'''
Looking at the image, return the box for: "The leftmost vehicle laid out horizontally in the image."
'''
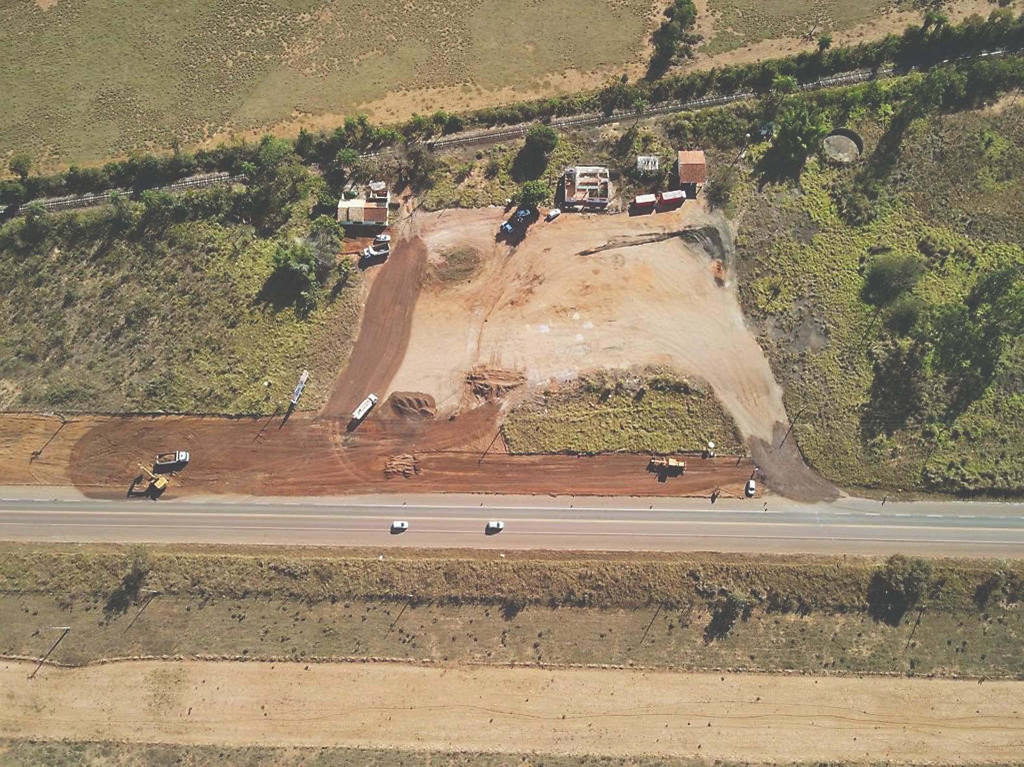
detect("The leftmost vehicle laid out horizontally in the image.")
[156,452,193,464]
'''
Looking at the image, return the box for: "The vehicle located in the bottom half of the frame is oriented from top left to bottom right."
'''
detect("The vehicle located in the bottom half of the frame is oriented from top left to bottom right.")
[139,461,173,494]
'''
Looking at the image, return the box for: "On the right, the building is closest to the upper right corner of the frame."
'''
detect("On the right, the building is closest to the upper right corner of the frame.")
[676,151,705,187]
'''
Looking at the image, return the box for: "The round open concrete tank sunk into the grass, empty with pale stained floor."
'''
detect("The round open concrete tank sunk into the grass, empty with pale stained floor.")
[822,127,865,162]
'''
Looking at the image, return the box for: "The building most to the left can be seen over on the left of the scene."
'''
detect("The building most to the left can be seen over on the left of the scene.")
[338,192,390,227]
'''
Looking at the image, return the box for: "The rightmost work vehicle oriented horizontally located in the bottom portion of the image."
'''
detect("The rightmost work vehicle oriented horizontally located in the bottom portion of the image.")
[650,459,685,471]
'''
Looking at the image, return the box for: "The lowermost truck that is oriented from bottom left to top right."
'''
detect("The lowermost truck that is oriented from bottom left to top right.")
[350,393,379,424]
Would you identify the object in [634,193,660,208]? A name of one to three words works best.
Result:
vehicle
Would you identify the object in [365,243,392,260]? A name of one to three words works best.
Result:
vehicle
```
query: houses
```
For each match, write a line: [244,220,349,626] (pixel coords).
[565,167,609,206]
[676,151,705,187]
[338,192,390,227]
